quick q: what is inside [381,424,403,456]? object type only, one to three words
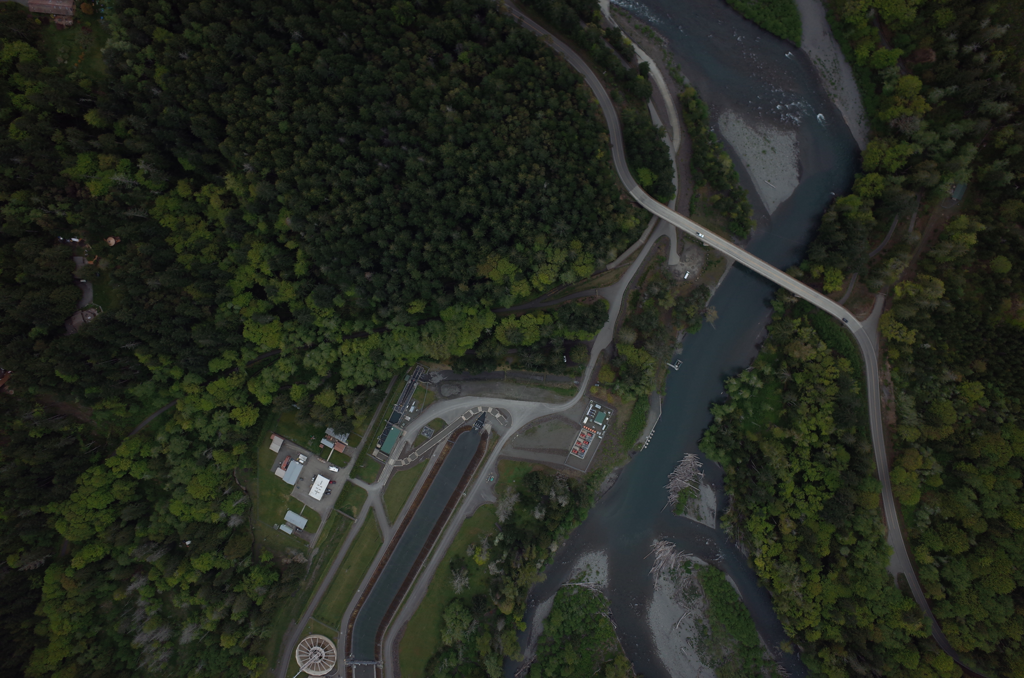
building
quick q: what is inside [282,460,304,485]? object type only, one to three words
building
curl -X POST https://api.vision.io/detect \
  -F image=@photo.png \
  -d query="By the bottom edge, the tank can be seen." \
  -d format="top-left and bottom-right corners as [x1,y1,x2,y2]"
[293,634,337,678]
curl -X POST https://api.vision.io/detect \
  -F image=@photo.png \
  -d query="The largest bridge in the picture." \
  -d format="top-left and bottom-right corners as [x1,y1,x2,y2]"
[629,184,865,336]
